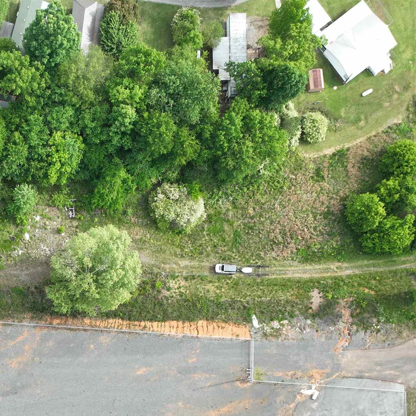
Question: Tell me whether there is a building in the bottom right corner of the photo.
No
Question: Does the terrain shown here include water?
No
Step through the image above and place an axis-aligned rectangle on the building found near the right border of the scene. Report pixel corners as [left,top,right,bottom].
[316,0,397,87]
